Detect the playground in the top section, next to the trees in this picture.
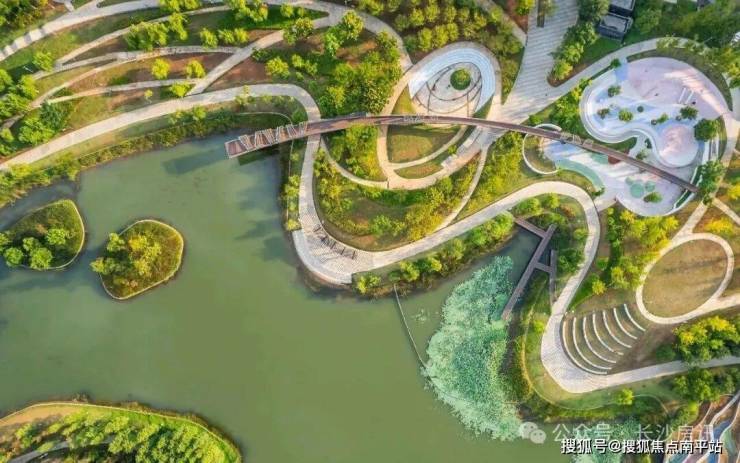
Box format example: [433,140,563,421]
[546,56,726,218]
